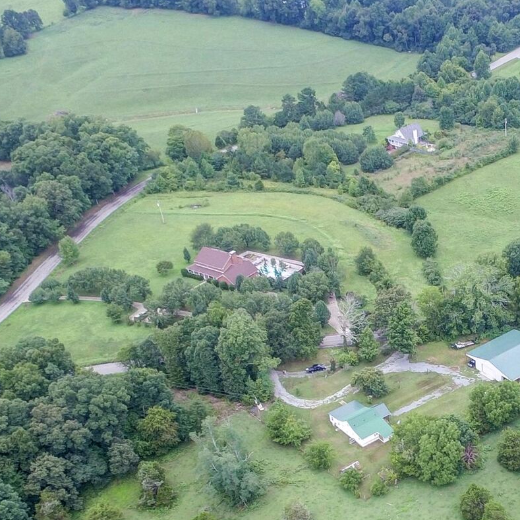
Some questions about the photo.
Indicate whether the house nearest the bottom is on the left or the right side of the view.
right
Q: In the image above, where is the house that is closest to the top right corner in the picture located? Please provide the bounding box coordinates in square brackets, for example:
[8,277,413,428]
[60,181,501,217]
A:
[385,123,431,150]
